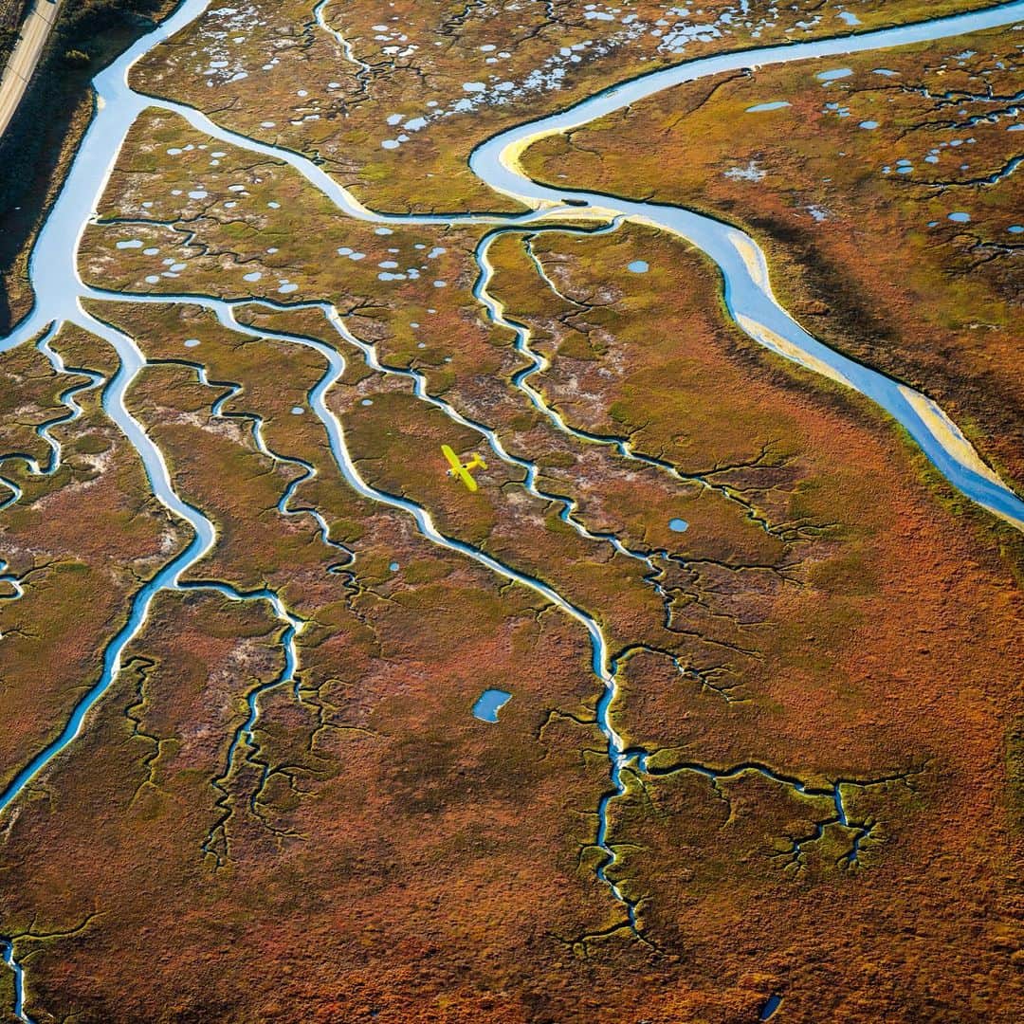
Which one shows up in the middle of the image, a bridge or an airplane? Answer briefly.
airplane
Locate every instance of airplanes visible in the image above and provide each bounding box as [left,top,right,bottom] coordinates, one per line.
[443,446,490,489]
